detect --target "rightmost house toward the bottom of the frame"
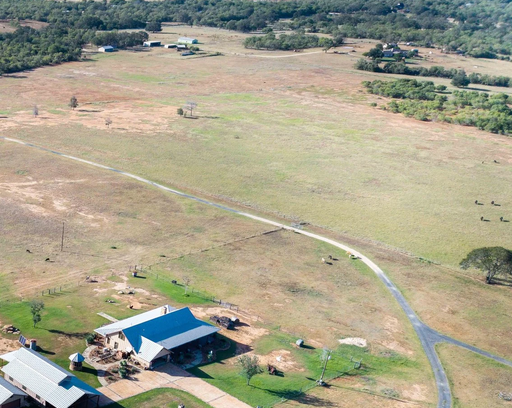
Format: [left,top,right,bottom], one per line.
[94,304,219,369]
